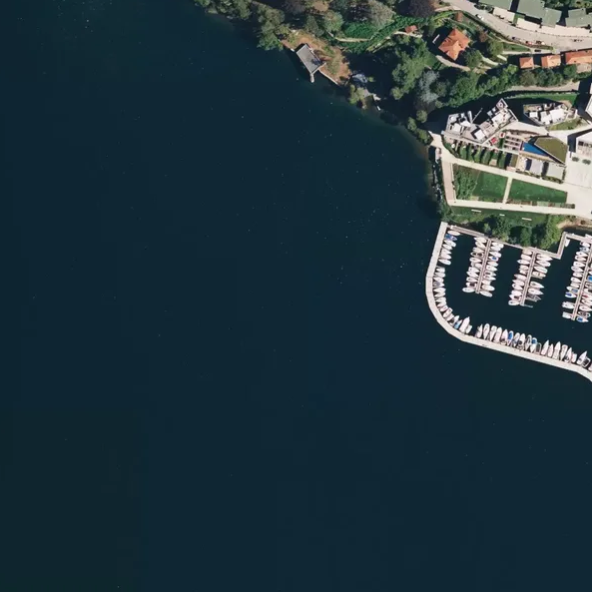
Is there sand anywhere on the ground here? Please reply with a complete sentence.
No, no sand is visible.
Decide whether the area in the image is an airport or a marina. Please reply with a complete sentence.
The area seen from above is a marina.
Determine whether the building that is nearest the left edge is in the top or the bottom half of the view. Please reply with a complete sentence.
You can find the building that is nearest the left edge in the top half.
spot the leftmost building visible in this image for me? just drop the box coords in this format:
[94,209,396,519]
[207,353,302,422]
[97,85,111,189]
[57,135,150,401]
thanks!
[294,44,322,74]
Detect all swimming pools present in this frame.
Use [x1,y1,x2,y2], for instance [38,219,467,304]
[524,143,546,156]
